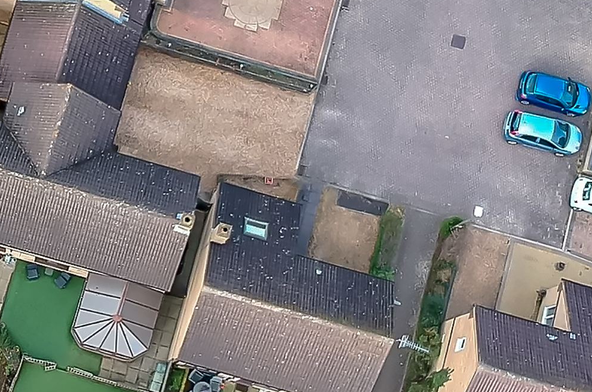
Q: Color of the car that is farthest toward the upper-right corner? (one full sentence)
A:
The car that is farthest toward the upper-right corner looks blue in the image.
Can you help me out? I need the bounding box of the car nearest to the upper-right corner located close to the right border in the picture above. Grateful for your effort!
[513,71,592,118]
